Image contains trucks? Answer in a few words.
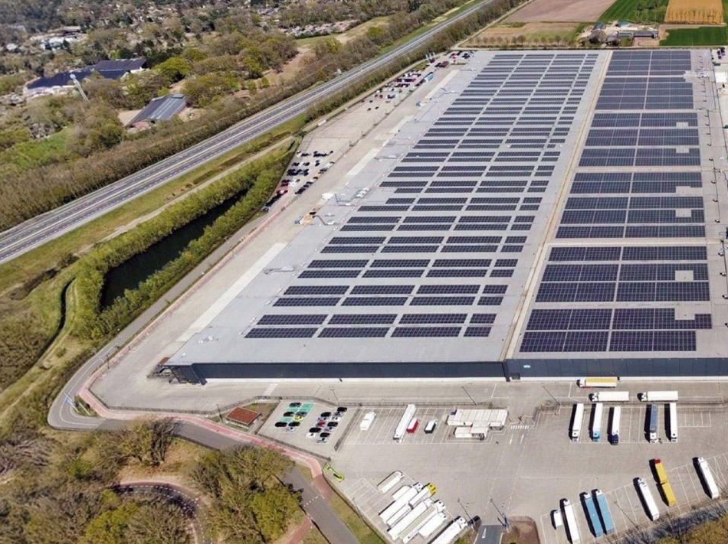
Yes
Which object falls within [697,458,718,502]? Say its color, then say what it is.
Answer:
white truck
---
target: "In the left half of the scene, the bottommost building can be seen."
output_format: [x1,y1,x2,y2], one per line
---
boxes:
[226,408,263,428]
